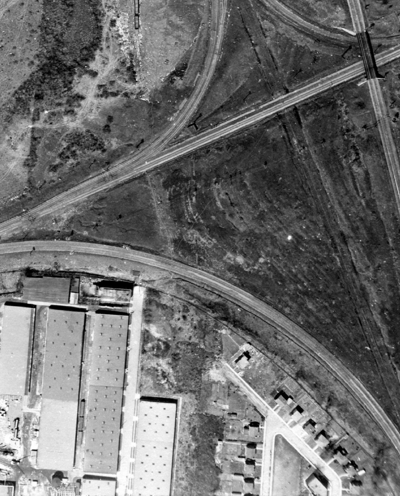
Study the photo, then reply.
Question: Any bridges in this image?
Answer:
Yes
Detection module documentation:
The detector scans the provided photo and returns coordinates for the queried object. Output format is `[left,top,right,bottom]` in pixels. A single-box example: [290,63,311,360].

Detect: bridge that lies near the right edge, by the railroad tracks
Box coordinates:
[331,26,386,86]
